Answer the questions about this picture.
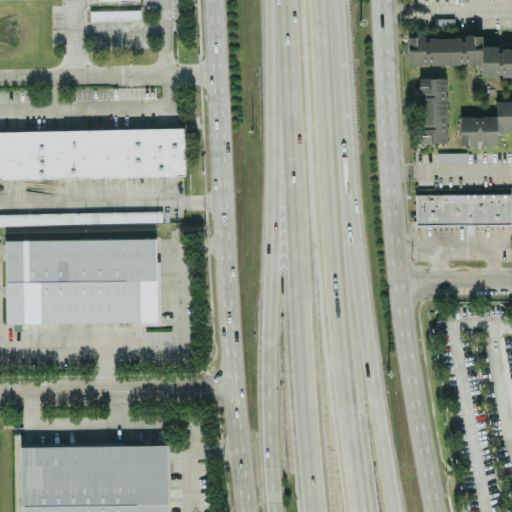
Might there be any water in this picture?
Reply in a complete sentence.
No, there's no water in this view.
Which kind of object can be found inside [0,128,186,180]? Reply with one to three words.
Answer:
building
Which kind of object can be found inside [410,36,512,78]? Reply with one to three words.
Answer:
building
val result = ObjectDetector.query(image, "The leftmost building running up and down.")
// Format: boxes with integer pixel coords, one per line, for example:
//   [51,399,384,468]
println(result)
[420,78,448,145]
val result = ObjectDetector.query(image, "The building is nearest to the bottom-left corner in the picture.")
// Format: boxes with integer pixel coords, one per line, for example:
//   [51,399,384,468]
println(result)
[21,446,170,512]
